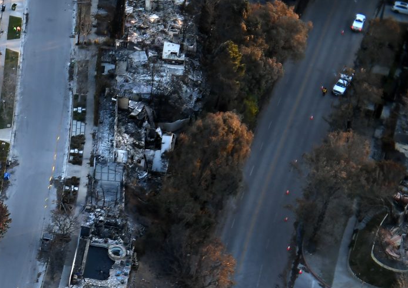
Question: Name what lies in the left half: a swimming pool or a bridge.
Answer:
swimming pool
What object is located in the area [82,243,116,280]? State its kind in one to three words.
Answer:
swimming pool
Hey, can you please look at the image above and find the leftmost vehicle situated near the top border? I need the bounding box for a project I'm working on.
[349,11,367,30]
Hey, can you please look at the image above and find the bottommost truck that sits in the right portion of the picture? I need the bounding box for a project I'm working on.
[331,68,354,92]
